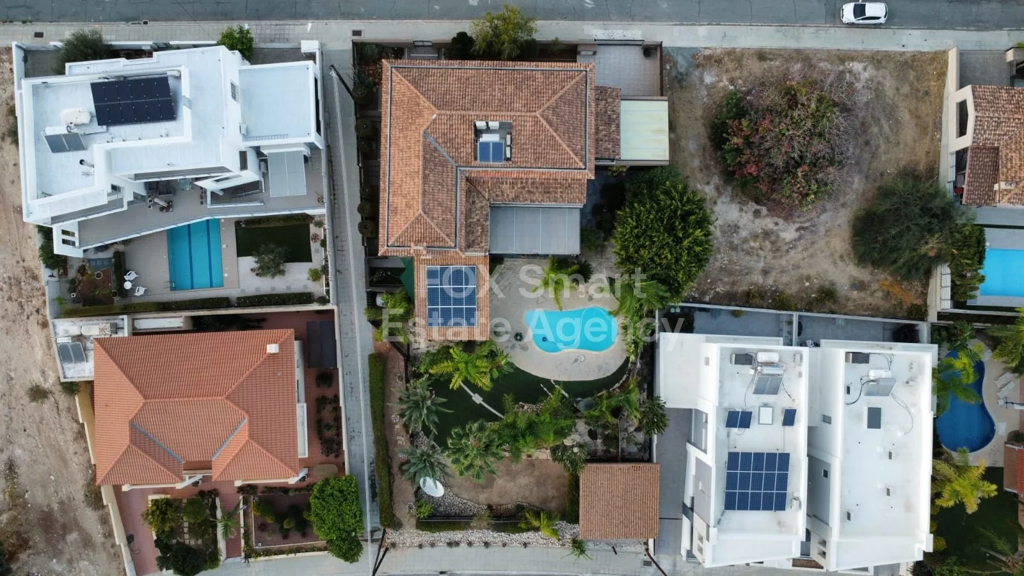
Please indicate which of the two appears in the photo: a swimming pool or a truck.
swimming pool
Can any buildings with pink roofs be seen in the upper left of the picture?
No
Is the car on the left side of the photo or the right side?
right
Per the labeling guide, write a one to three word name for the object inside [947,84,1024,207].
house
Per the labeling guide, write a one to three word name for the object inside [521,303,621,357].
swimming pool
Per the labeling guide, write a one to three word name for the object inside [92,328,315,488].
house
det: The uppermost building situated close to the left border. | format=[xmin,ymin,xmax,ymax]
[19,46,322,257]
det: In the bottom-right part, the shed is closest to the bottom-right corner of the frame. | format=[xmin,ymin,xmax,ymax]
[985,438,1024,493]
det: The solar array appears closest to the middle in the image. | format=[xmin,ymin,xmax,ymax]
[427,266,477,327]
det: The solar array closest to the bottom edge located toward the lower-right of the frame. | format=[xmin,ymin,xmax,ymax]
[724,452,789,511]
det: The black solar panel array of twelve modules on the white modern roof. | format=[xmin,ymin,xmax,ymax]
[90,77,176,126]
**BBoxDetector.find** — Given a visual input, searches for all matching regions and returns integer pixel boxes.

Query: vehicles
[844,0,892,25]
